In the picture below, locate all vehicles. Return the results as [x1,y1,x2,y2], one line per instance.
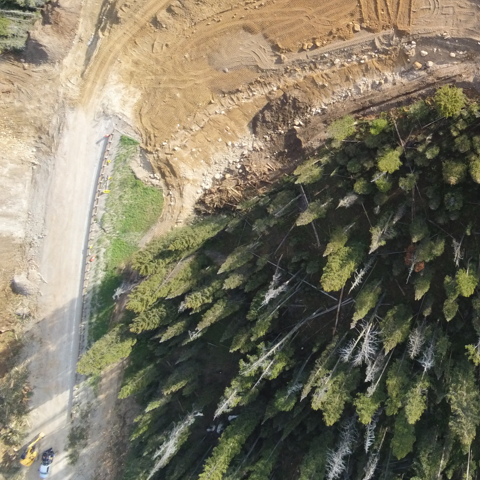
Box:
[23,439,45,469]
[38,446,58,480]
